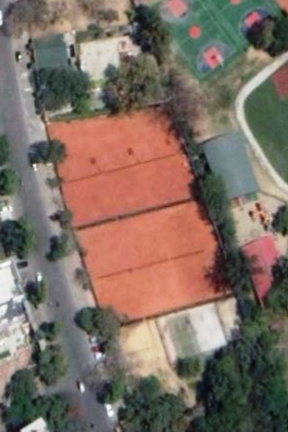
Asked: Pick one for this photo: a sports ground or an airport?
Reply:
sports ground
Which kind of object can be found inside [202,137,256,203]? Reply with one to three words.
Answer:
shed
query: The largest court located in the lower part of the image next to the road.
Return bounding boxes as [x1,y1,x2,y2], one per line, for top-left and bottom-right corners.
[76,200,231,320]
